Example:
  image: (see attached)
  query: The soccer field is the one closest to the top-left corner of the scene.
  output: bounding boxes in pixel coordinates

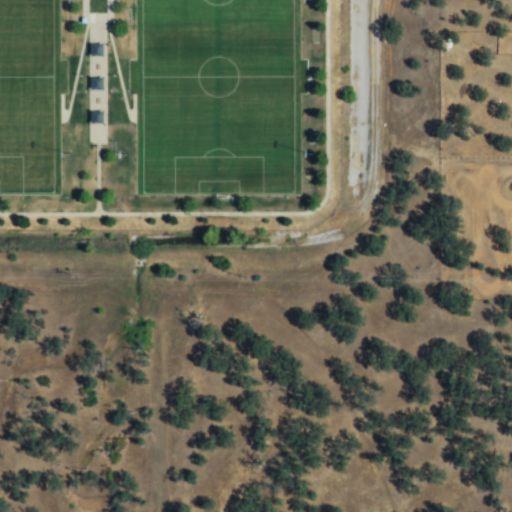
[0,0,68,194]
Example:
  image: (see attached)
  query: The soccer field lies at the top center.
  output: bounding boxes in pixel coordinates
[130,0,308,195]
